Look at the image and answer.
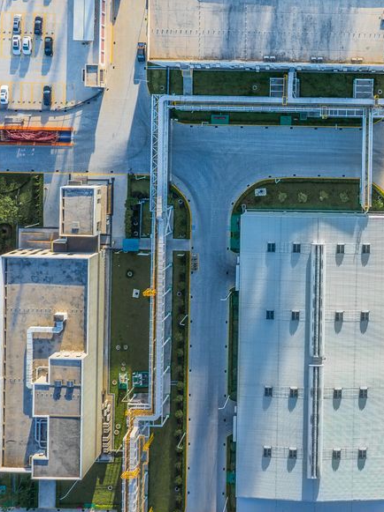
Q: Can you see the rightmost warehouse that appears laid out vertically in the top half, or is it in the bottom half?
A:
bottom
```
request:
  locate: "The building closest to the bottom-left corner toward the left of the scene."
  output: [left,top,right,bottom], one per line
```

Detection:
[0,251,103,480]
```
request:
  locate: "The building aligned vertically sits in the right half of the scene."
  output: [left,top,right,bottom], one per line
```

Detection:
[237,209,384,506]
